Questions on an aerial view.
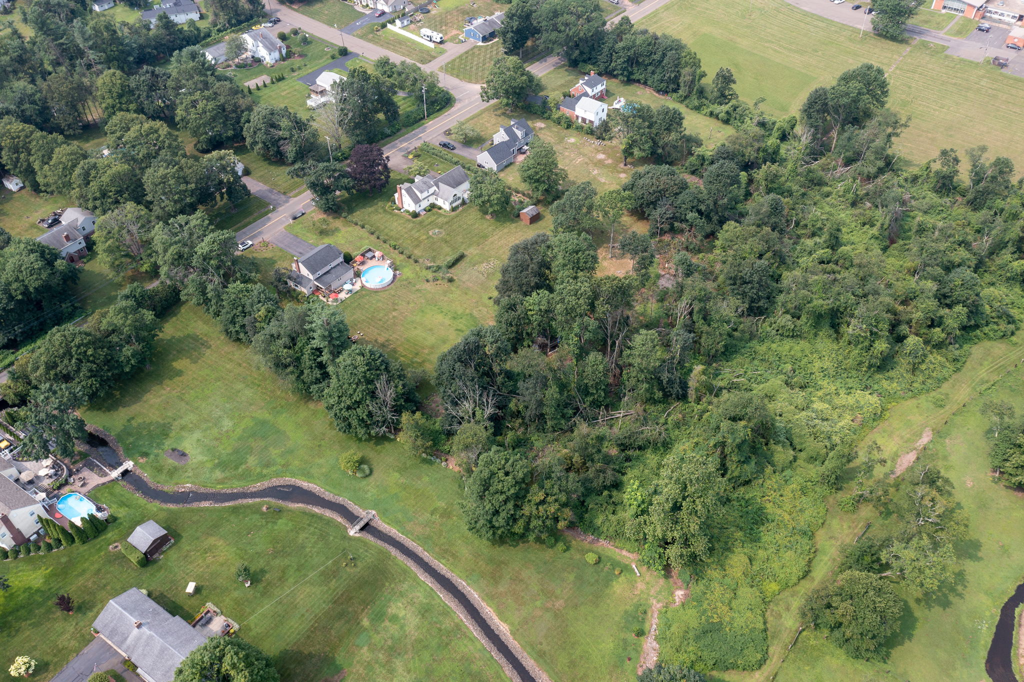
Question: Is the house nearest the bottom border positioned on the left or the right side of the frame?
left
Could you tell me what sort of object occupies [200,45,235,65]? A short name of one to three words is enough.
building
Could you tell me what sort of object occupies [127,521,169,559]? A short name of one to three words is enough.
shed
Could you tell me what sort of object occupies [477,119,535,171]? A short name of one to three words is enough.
house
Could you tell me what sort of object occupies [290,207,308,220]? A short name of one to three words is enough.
vehicle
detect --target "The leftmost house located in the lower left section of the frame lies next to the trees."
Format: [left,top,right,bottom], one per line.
[0,455,50,548]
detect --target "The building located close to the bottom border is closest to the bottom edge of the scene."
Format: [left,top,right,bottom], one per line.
[92,588,235,682]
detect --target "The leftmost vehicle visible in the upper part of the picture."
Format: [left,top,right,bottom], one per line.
[40,212,63,227]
